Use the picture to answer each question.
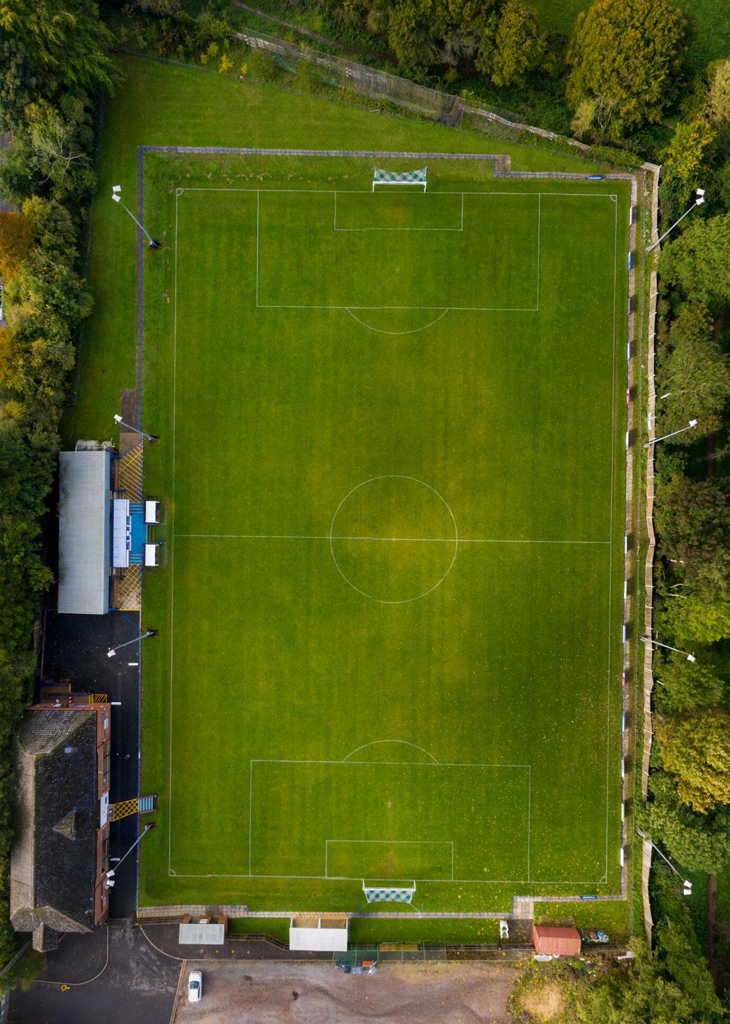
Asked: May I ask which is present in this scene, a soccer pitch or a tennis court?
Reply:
soccer pitch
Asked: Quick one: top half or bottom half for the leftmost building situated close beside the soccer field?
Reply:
bottom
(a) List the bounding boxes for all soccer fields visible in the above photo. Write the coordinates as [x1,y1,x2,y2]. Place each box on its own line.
[164,187,622,888]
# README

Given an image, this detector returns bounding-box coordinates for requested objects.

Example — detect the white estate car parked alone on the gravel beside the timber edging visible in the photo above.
[186,974,202,1007]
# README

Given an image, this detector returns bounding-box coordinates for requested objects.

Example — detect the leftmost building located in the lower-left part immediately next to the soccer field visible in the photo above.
[9,701,114,952]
